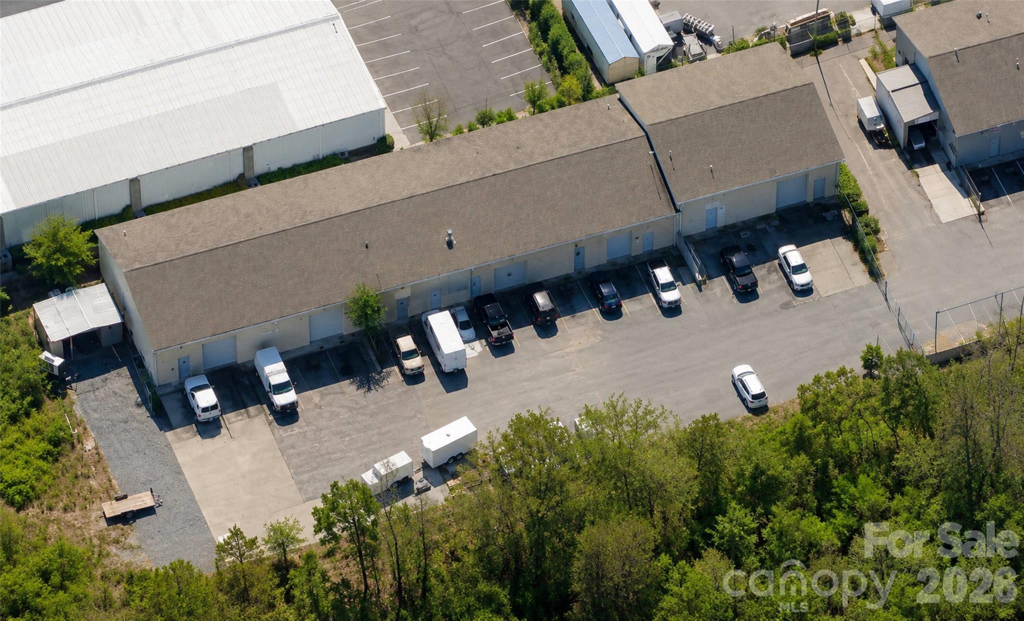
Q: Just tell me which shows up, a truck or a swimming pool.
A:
truck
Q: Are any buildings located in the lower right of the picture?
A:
No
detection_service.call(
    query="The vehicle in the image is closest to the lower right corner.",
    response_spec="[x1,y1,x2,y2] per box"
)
[731,367,770,412]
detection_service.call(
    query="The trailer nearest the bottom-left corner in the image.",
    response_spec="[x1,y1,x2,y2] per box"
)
[99,486,164,522]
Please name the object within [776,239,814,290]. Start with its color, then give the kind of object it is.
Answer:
white car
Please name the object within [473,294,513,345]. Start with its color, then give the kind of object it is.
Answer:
black truck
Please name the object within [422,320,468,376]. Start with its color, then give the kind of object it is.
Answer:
white truck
